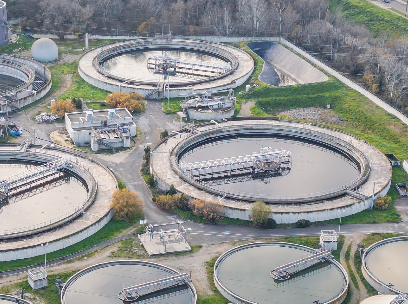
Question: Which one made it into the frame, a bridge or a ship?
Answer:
bridge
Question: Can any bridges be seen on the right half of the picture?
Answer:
Yes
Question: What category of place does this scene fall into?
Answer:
industrial area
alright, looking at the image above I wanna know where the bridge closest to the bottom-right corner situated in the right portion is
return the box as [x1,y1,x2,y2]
[270,248,335,281]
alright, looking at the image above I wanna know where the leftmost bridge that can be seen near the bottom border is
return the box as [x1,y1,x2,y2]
[118,270,192,301]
